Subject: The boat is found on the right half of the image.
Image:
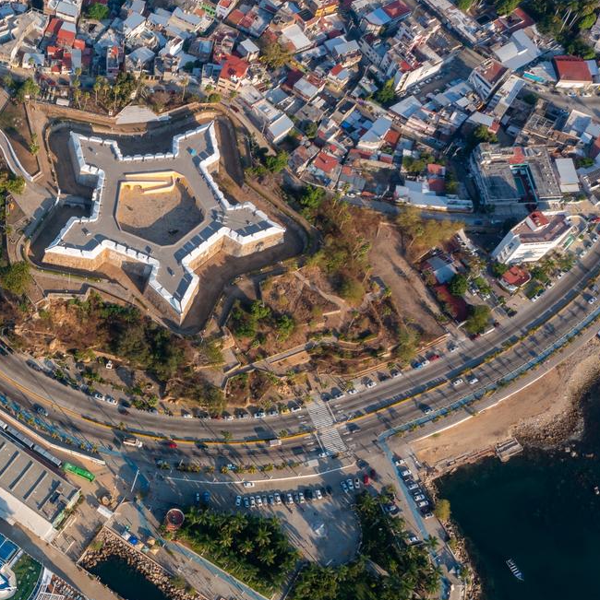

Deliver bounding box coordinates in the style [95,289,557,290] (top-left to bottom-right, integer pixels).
[505,560,523,580]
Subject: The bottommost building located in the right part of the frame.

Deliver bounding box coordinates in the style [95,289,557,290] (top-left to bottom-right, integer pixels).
[432,288,475,325]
